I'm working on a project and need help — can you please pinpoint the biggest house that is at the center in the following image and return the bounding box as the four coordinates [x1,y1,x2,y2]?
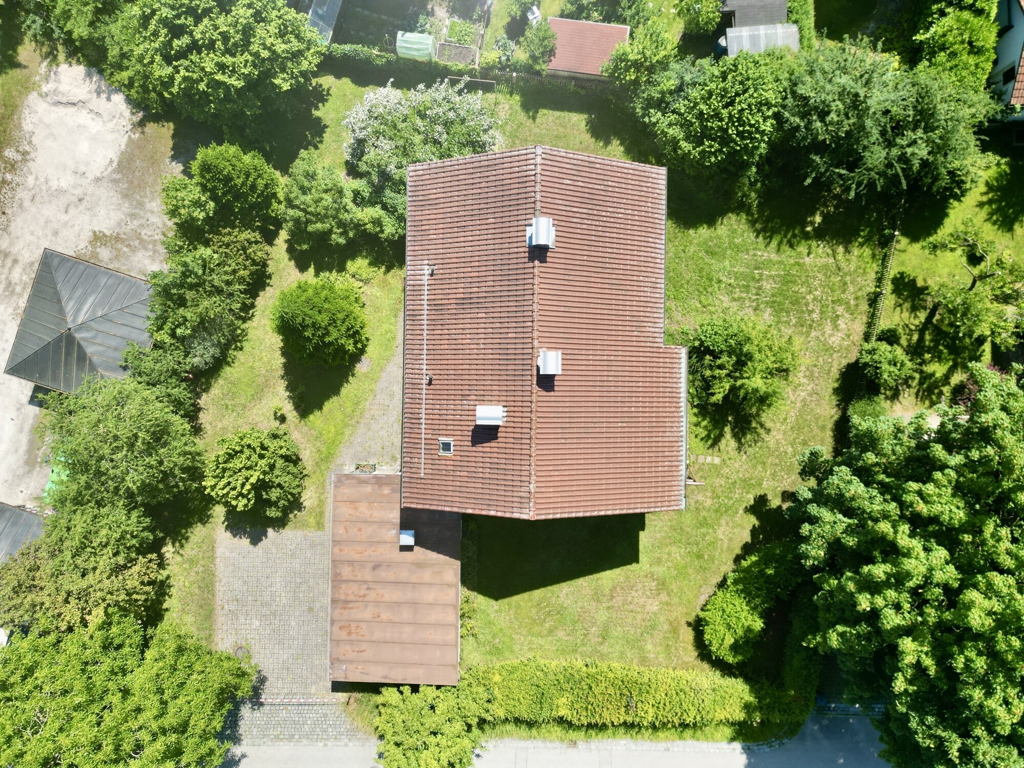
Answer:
[400,145,688,521]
